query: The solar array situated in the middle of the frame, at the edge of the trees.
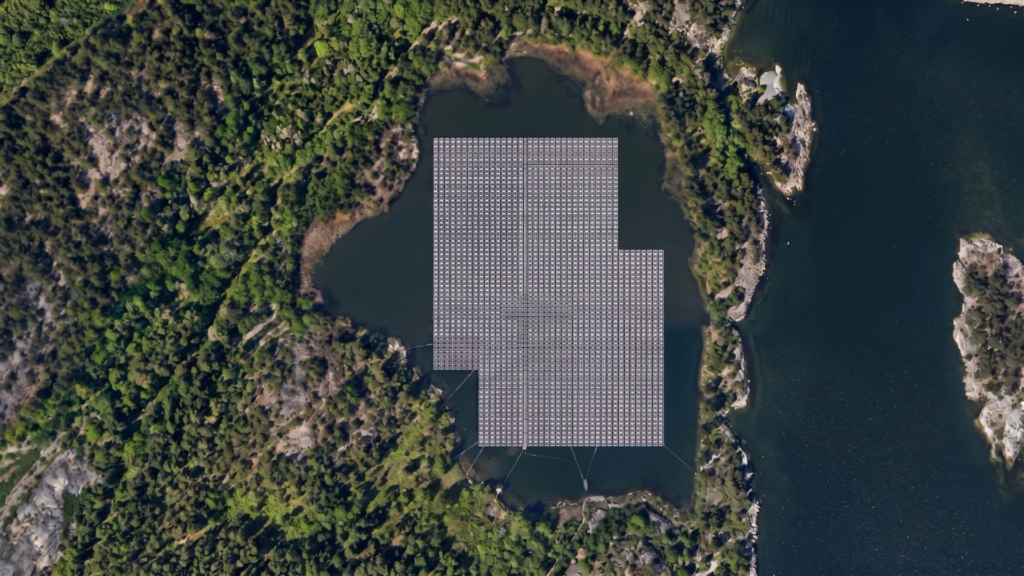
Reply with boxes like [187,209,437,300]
[434,138,665,452]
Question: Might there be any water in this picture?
Yes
